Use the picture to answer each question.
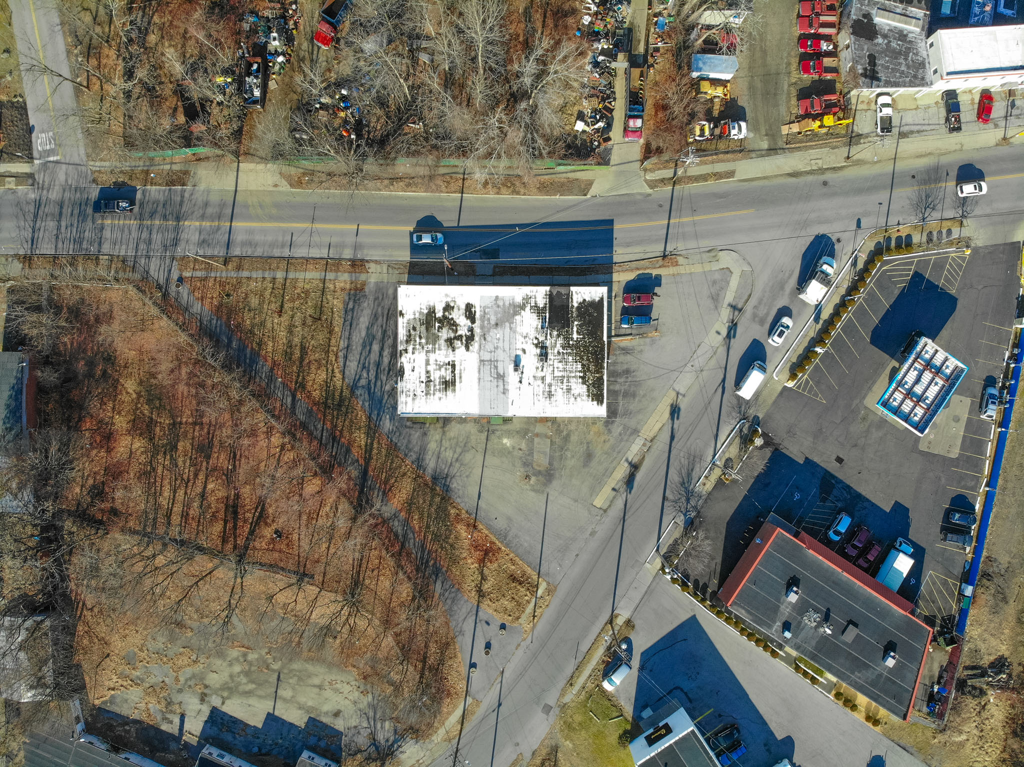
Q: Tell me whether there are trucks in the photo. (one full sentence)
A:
Yes, there's a truck here.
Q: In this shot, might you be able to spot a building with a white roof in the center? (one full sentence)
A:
Yes, a building with a white roof is visible in the center.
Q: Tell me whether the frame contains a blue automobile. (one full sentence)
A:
Yes, you can see a blue automobile in this photo.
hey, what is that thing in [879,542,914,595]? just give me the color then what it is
blue truck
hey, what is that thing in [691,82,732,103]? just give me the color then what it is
yellow work vehicle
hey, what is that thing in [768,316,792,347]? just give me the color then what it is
white car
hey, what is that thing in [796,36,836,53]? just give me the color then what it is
red vehicle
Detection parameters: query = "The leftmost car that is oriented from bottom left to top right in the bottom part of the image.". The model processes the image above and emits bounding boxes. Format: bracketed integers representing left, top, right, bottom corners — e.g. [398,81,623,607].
[604,654,634,690]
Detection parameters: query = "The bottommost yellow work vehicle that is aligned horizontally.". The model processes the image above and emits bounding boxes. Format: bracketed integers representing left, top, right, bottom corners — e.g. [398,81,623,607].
[799,117,850,137]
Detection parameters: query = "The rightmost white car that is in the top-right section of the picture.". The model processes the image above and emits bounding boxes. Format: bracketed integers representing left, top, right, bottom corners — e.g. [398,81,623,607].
[956,181,987,196]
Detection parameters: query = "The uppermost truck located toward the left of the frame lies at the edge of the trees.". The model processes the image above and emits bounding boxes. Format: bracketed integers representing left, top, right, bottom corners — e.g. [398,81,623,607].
[312,0,350,54]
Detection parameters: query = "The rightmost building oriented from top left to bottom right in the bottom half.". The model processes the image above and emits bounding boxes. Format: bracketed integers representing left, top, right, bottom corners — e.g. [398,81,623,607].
[717,515,933,721]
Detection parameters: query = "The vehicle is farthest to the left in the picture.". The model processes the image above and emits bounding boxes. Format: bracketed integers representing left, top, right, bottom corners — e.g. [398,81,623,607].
[96,198,137,214]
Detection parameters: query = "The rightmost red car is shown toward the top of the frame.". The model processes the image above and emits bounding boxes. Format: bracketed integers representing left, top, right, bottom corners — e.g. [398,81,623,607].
[976,93,994,123]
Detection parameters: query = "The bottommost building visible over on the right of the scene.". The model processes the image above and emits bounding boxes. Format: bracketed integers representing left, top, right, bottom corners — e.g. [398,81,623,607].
[628,707,718,767]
